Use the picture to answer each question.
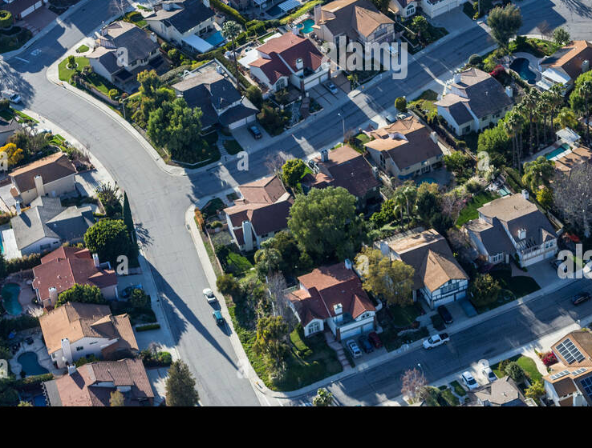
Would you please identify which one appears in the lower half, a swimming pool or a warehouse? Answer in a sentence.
Visible in the lower half is a swimming pool.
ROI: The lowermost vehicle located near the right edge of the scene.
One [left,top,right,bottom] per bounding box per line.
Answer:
[570,292,591,306]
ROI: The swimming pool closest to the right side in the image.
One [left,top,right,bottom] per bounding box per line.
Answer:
[537,138,579,164]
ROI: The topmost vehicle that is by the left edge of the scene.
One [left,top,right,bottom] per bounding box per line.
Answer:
[0,85,23,103]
